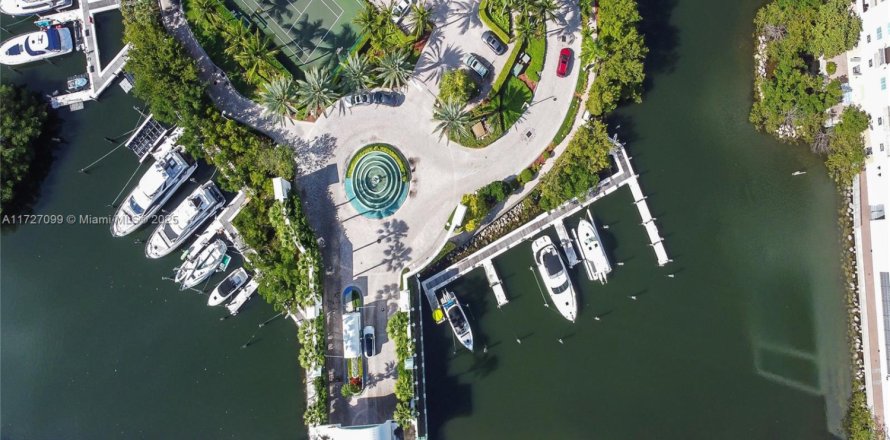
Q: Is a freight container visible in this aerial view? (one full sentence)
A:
No, the picture doesn't show any freight container.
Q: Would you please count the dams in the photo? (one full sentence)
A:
There are no dams in this view.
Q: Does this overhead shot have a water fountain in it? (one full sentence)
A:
Yes, the photo shows a water fountain.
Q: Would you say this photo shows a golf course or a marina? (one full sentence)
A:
This looks like a marina.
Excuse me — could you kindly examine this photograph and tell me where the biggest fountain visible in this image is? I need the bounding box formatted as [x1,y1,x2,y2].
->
[342,141,413,221]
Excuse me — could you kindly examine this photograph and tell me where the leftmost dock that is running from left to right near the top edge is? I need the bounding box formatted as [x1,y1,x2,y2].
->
[35,7,83,28]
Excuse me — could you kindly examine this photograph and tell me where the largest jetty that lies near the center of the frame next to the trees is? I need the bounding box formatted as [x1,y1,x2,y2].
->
[419,170,637,293]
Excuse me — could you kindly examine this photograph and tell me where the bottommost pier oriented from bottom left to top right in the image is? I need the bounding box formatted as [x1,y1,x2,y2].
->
[229,280,265,316]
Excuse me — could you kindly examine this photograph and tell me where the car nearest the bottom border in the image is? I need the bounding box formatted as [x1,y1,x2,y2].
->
[362,325,376,357]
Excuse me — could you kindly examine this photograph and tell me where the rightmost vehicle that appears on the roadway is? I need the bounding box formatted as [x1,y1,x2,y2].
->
[556,48,574,78]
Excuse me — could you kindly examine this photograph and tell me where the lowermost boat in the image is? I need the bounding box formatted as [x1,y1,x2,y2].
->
[438,290,474,351]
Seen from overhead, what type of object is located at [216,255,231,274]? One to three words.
boat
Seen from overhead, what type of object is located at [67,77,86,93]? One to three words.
boat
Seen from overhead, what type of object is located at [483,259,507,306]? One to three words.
pier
